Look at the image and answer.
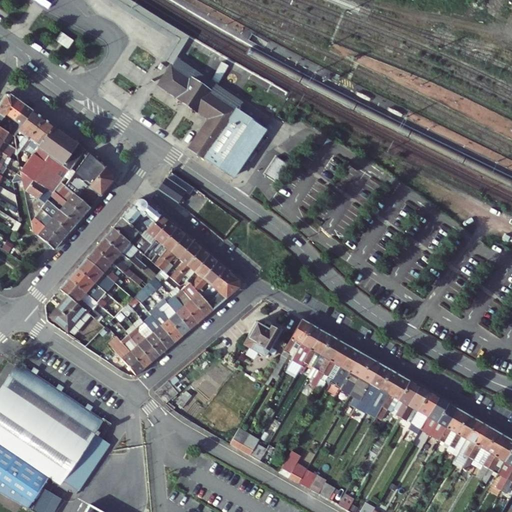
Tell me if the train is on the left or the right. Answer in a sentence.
The train sits on the right side.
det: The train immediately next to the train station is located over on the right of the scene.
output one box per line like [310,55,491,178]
[249,48,512,188]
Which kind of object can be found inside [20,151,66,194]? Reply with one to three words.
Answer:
building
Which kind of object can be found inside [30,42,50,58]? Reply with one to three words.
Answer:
vehicle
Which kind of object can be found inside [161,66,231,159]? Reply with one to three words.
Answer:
train station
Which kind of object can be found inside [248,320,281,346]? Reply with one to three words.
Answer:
house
